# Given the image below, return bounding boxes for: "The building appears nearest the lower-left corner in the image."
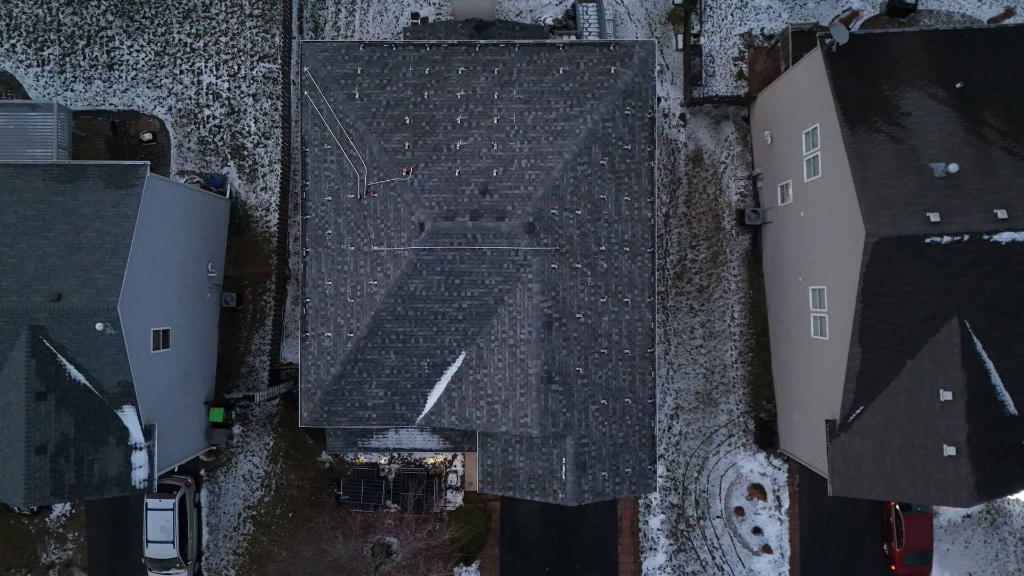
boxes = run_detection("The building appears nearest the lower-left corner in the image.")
[0,157,233,507]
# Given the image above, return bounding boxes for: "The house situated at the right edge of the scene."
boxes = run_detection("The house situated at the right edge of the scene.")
[748,28,1024,503]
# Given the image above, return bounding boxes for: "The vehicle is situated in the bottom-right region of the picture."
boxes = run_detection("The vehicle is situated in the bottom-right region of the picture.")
[877,496,937,574]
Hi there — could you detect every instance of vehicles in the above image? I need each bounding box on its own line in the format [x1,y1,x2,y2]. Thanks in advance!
[142,472,202,576]
[877,496,937,574]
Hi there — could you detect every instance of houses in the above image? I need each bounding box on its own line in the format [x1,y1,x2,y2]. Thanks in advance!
[301,40,656,507]
[748,28,1024,503]
[0,157,233,507]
